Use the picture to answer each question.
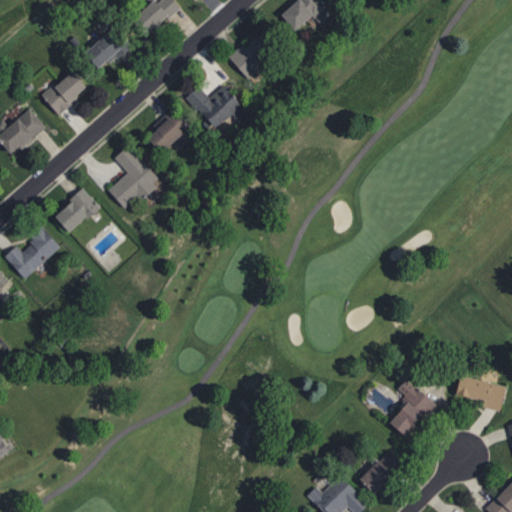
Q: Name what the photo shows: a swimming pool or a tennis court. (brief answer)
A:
swimming pool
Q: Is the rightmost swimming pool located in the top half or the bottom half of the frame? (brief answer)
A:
bottom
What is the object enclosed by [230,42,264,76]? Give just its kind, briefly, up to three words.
house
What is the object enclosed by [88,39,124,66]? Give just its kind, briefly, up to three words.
house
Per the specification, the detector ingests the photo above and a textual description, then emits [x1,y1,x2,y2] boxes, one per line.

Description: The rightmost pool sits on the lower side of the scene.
[364,382,399,415]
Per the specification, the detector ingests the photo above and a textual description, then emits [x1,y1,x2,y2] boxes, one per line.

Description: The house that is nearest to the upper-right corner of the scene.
[281,0,324,31]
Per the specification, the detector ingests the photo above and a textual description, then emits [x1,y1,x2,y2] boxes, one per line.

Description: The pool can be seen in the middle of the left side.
[86,222,126,272]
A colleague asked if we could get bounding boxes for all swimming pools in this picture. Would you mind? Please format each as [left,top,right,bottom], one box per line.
[86,222,126,272]
[364,382,399,415]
